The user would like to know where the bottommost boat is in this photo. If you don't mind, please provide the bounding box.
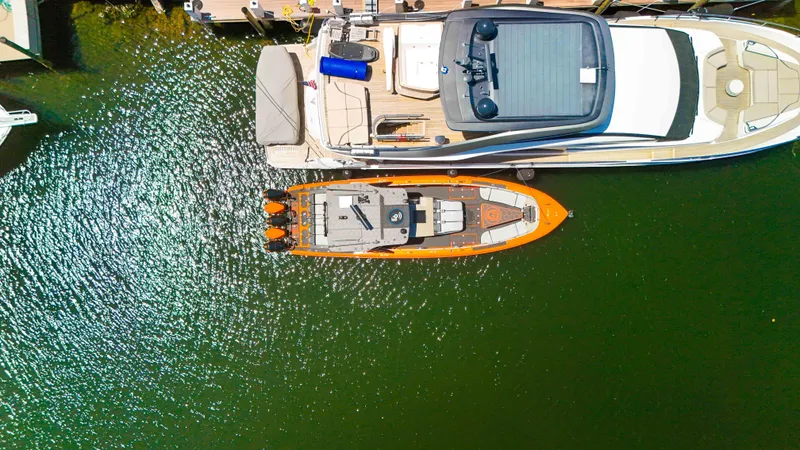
[264,176,575,259]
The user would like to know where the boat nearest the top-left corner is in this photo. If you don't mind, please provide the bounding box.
[0,104,39,148]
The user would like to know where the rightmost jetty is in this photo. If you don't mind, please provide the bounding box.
[188,0,800,25]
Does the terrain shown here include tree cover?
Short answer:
No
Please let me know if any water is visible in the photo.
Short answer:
Yes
